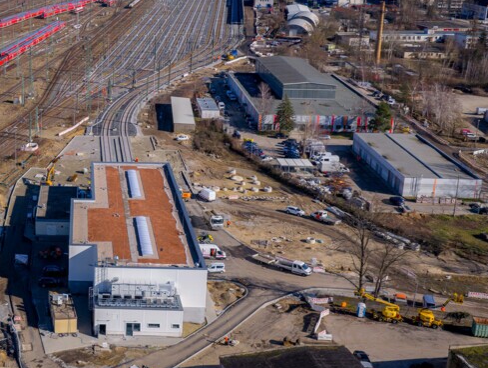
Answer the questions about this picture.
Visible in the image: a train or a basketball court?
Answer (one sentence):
There is a train in the scene.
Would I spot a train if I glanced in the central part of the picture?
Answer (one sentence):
No, in the central part of the picture there is no train.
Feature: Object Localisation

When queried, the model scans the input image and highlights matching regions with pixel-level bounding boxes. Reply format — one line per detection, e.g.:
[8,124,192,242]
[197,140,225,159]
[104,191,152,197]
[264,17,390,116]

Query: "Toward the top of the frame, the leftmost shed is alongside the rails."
[160,96,197,131]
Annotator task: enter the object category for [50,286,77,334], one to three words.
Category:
building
